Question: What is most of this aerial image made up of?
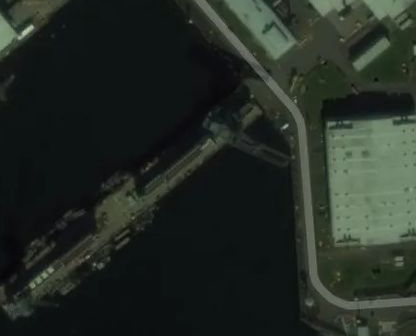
water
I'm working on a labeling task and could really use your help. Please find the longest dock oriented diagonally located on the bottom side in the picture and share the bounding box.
[10,135,241,317]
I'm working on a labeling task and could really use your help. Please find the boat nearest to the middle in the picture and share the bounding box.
[139,158,158,173]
